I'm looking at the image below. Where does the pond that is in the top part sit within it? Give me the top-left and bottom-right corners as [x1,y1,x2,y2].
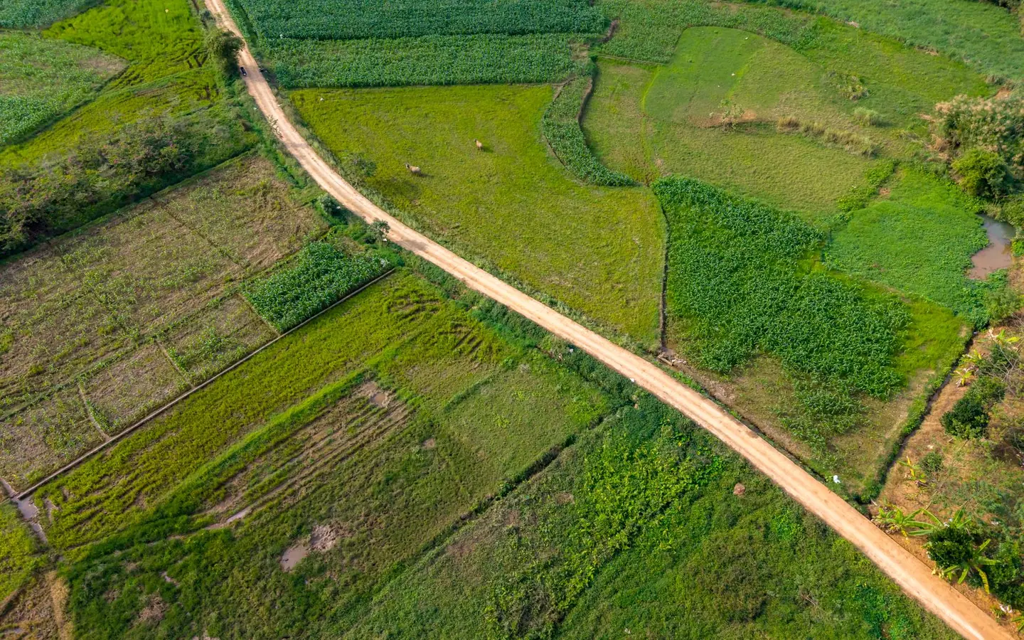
[967,217,1014,280]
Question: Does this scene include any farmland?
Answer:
Yes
